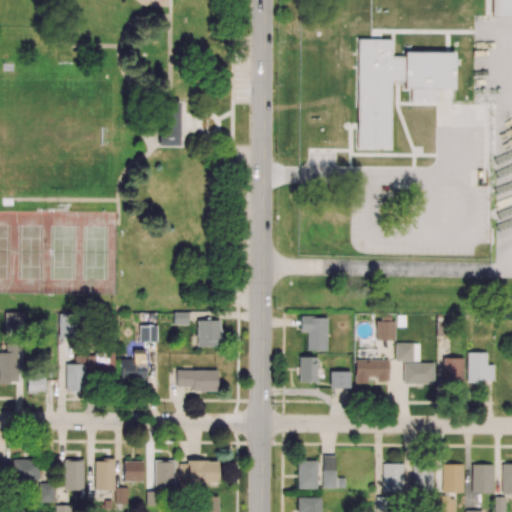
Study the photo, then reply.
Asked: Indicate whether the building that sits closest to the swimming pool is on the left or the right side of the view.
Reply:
right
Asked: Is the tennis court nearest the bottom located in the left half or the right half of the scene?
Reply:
left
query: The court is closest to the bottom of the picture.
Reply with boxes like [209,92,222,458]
[0,212,116,294]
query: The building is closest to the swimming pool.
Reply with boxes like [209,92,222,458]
[376,321,396,341]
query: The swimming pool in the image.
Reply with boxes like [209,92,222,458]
[356,316,376,346]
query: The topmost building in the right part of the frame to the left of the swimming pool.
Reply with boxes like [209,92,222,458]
[302,316,330,352]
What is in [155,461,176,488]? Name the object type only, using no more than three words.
house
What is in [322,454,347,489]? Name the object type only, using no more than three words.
building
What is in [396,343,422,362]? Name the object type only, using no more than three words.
building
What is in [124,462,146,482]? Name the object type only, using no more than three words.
house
